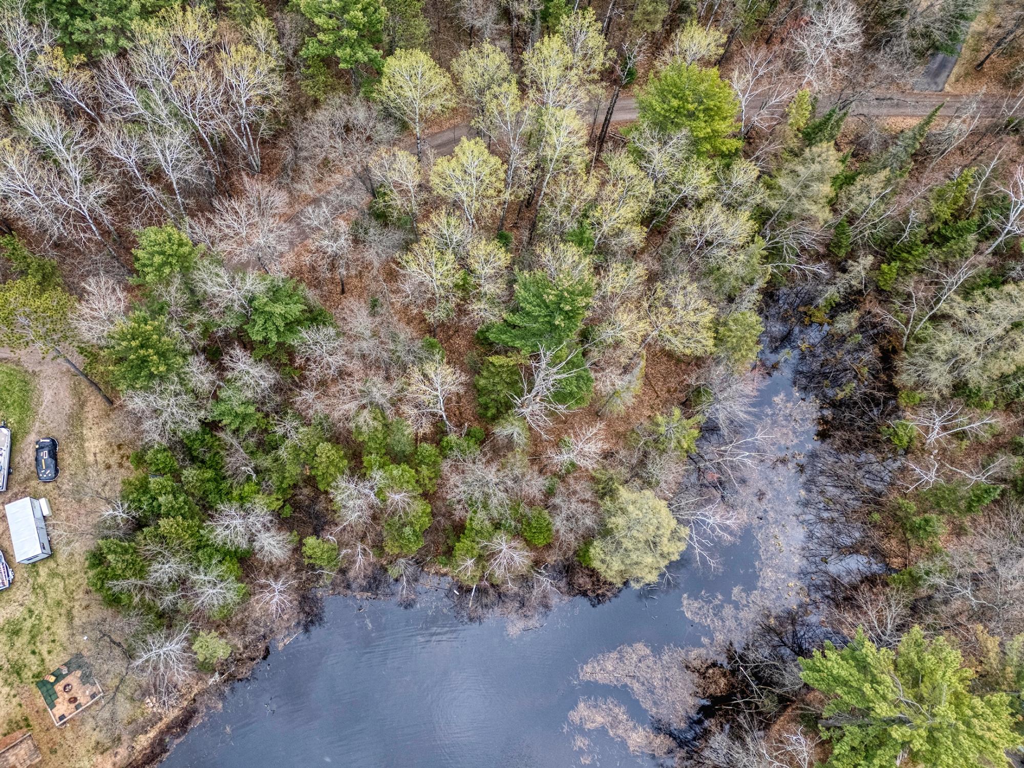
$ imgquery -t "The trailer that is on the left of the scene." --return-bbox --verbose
[6,495,52,565]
